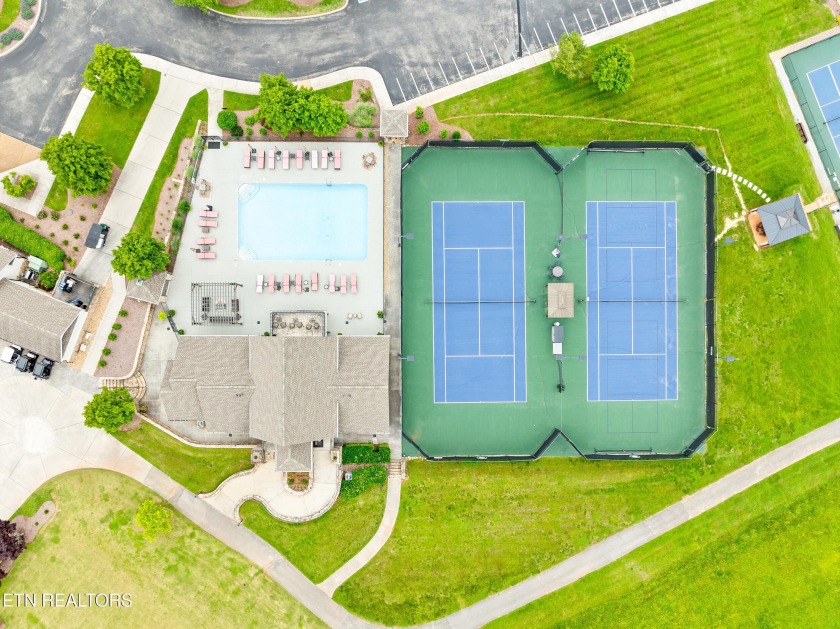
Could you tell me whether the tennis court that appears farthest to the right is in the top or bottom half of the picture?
top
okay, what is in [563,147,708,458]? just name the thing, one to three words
tennis court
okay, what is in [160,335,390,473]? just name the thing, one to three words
building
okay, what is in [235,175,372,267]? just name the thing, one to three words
swimming pool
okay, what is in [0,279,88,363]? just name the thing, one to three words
barn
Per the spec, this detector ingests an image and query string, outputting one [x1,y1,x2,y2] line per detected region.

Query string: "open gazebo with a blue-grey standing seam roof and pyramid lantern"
[747,194,810,247]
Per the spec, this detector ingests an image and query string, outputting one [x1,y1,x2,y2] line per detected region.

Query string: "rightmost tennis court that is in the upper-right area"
[783,34,840,222]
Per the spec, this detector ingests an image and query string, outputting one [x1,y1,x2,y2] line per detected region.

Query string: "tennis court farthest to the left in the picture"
[403,147,563,458]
